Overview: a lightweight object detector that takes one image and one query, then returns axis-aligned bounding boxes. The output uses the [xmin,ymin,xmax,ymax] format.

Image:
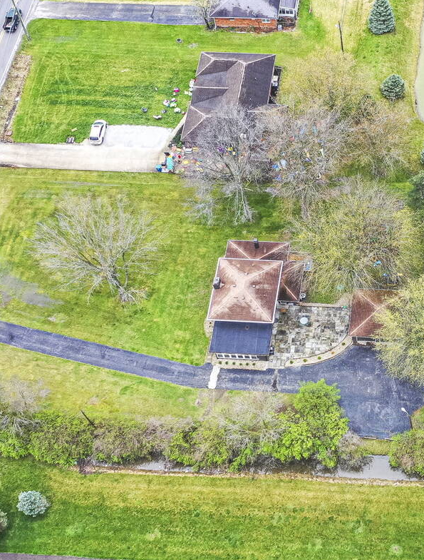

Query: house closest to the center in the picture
[206,231,312,367]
